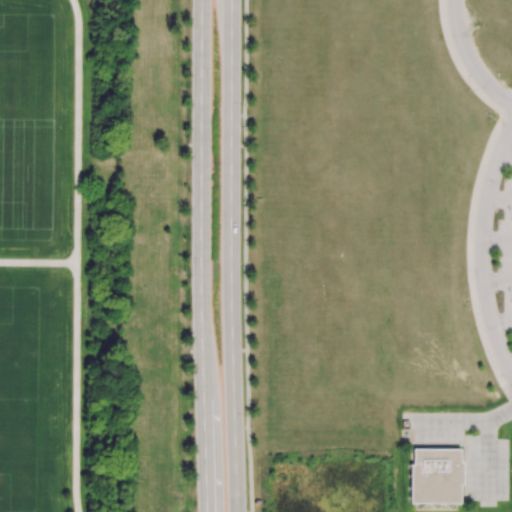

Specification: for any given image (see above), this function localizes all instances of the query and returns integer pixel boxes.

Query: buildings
[409,449,466,506]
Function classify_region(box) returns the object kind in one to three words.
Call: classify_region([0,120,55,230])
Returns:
sports field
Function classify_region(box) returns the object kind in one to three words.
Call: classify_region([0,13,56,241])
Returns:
soccer field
